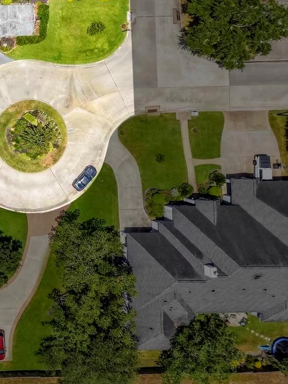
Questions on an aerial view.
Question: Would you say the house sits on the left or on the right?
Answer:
right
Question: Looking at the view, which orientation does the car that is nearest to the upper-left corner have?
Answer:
diagonally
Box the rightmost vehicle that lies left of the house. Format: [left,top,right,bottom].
[73,163,100,193]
